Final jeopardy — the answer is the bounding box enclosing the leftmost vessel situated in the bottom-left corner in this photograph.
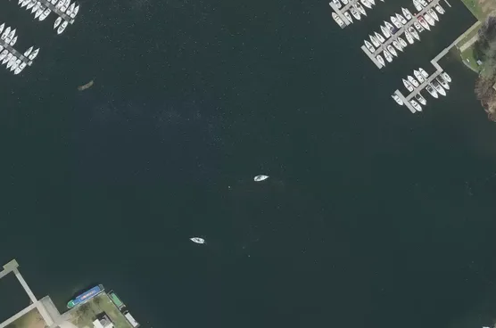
[67,285,105,306]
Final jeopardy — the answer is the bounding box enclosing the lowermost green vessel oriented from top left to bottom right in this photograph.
[109,291,126,309]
